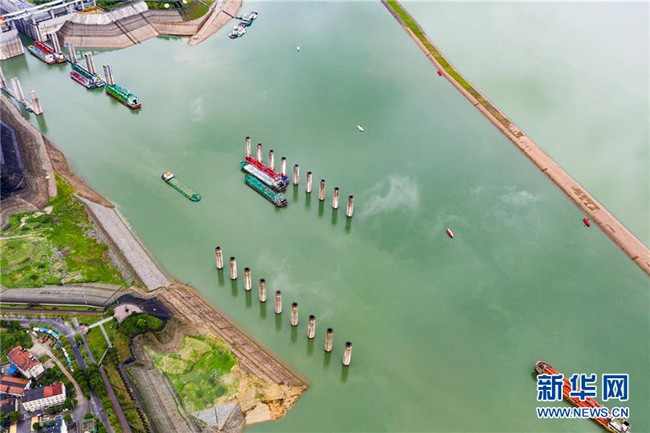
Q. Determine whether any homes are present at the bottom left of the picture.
Yes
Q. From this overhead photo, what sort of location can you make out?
port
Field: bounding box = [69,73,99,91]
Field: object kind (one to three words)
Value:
ship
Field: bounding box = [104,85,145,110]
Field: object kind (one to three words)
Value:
ship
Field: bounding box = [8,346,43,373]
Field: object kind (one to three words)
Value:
house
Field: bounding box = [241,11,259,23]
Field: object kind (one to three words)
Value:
boat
